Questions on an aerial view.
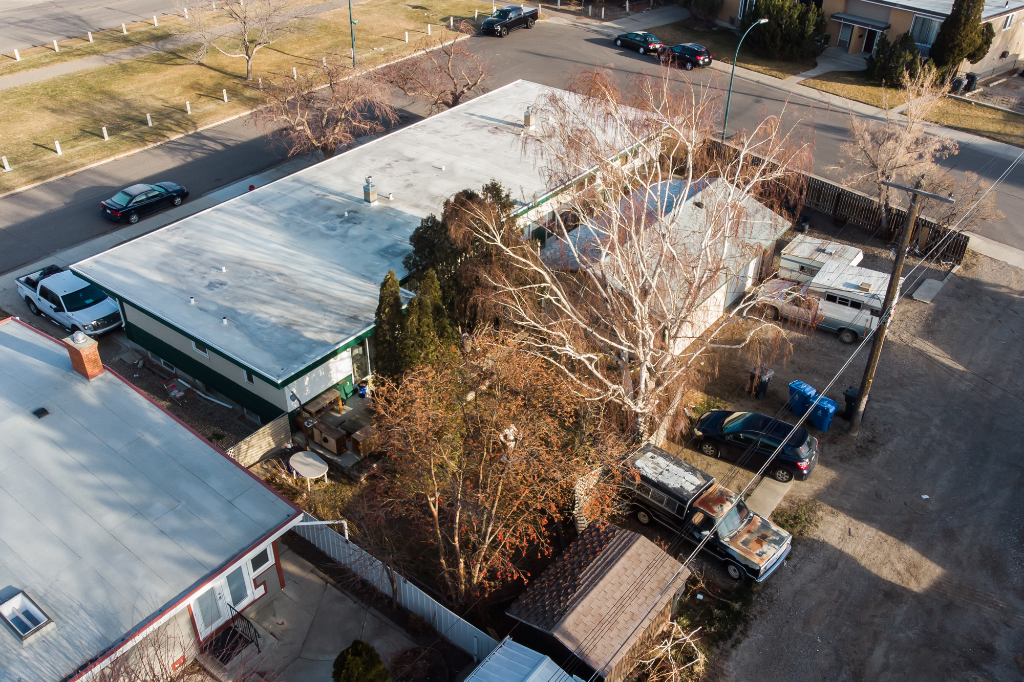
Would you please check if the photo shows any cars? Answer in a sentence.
Yes, the picture does show a car.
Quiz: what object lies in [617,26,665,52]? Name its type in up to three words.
car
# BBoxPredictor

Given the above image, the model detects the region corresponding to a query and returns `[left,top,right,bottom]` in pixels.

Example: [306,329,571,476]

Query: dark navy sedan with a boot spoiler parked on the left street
[93,178,191,222]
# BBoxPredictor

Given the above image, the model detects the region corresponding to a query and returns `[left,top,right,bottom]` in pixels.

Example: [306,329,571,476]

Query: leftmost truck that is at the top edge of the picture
[477,3,537,37]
